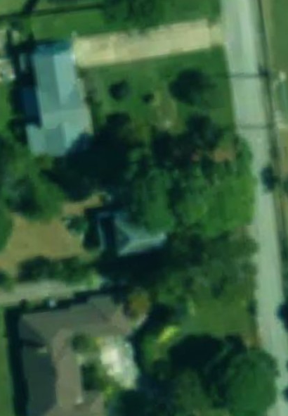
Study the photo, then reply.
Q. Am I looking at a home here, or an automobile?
home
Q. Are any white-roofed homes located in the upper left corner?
No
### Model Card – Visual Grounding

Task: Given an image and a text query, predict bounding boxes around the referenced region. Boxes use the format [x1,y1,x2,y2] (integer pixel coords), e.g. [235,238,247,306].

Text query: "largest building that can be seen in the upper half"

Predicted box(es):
[20,39,87,155]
